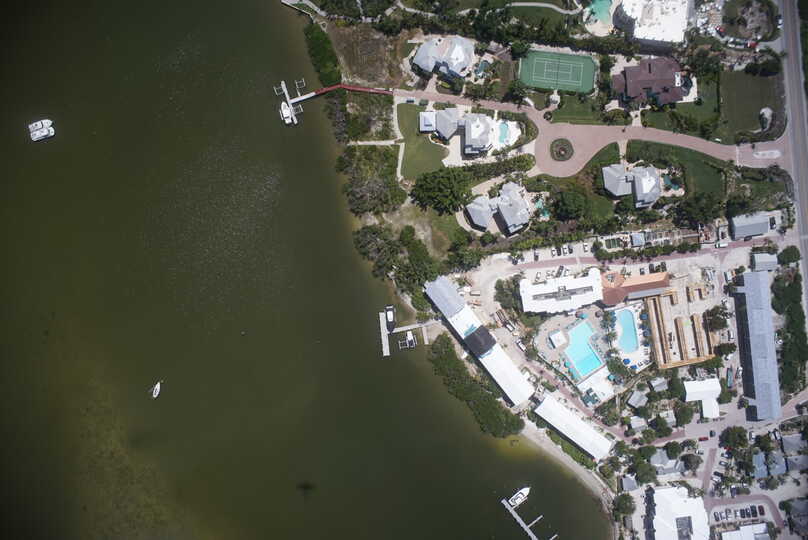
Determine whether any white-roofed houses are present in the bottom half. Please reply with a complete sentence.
Yes, a white-roofed house shows up in the bottom half.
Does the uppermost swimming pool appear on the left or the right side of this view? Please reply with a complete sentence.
The uppermost swimming pool is on the right side of the image.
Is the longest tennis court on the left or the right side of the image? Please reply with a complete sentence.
The longest tennis court is on the right side of the image.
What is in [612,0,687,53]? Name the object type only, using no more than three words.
building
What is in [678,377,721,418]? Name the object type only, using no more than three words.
house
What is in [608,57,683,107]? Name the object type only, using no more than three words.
house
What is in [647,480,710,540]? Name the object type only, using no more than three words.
building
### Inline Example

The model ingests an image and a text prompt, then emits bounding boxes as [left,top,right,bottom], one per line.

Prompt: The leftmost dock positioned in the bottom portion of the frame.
[379,313,438,356]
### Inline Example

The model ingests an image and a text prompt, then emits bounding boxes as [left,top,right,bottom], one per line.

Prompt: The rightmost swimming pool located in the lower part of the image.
[604,301,652,372]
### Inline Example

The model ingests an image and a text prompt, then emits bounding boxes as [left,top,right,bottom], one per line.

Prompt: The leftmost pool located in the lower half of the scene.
[534,305,611,384]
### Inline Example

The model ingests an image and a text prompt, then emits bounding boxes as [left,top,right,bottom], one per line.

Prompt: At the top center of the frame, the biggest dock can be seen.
[281,81,394,124]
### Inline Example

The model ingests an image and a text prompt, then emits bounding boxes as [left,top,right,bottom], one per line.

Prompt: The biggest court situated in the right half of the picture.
[520,47,597,92]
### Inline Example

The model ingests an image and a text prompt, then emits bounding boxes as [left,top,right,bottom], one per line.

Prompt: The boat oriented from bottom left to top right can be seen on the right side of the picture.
[506,487,526,506]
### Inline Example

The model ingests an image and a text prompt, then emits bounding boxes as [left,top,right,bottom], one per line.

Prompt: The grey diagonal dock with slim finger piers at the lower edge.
[500,497,557,540]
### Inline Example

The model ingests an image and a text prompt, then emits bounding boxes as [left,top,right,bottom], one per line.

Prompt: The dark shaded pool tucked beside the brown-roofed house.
[676,69,698,103]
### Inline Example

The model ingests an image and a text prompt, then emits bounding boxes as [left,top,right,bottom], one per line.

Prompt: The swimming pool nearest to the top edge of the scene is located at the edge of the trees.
[584,0,614,36]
